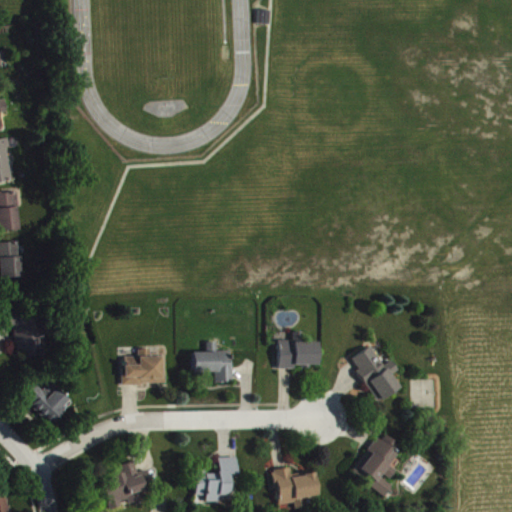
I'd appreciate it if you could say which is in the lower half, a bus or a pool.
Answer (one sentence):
You can see a pool in the lower half.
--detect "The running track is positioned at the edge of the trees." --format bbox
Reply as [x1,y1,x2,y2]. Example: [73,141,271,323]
[72,0,252,153]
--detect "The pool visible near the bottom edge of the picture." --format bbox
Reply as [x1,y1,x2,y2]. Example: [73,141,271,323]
[400,455,433,494]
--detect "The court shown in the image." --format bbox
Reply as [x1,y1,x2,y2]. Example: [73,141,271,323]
[410,380,434,408]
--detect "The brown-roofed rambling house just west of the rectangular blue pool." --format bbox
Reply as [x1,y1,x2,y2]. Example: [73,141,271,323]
[360,435,398,497]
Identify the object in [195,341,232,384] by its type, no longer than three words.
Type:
house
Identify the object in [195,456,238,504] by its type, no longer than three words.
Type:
house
